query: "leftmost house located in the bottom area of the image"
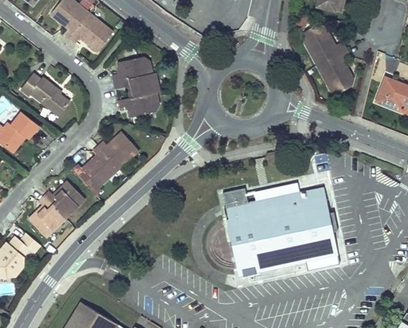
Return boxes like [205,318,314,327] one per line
[0,231,42,282]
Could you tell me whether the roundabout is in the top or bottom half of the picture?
top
